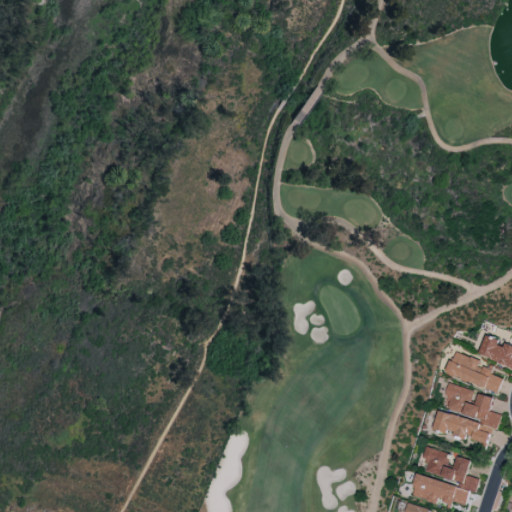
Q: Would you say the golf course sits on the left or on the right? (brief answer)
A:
right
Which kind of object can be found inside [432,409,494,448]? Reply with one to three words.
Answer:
house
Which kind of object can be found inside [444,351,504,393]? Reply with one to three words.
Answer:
house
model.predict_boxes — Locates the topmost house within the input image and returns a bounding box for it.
[482,331,512,362]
